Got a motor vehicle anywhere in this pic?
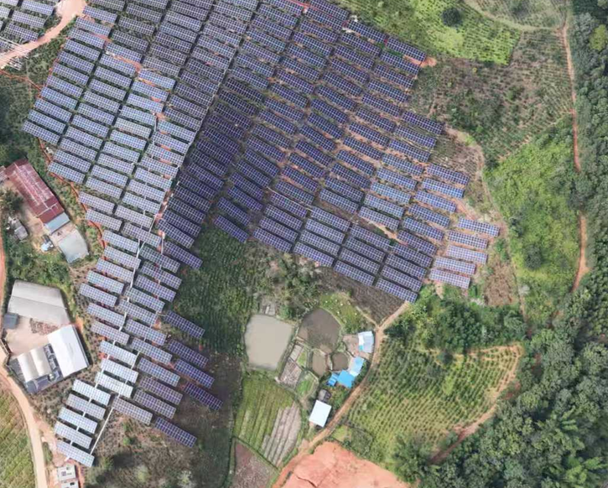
No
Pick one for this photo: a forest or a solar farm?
solar farm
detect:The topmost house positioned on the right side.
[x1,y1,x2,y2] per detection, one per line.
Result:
[356,332,374,353]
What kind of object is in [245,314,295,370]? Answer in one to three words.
pond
